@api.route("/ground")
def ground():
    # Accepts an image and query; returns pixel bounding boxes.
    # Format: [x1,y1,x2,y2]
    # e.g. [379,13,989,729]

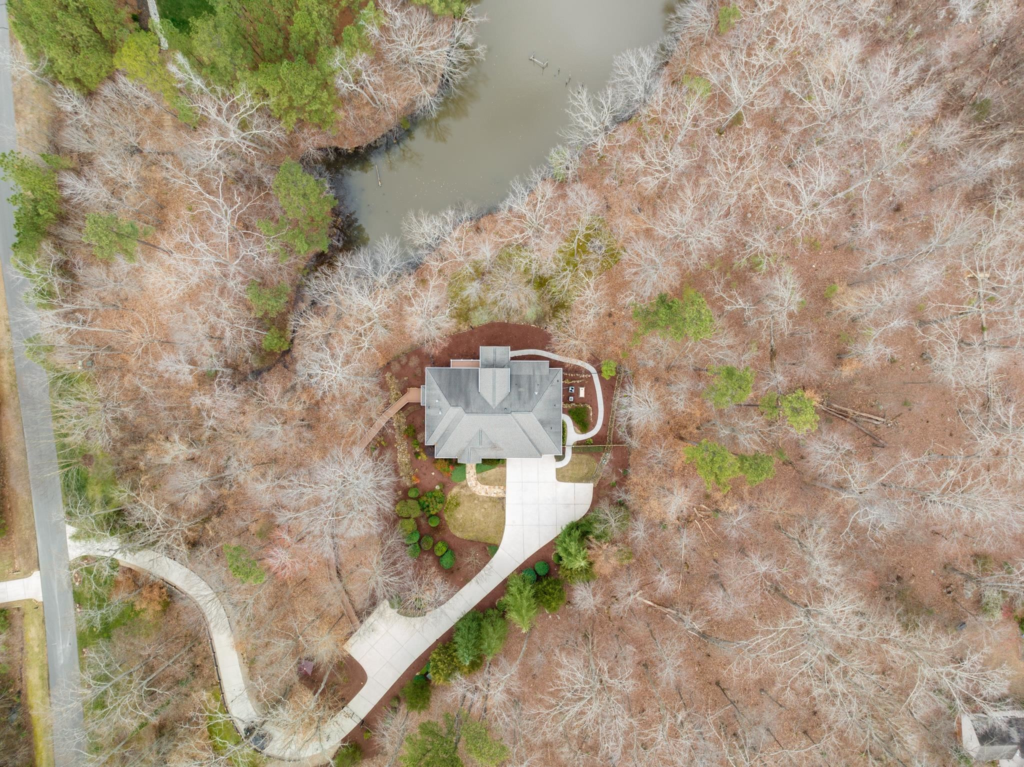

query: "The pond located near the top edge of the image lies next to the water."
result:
[302,0,682,288]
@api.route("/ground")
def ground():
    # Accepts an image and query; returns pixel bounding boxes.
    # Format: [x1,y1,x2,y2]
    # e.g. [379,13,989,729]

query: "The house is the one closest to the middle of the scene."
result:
[420,346,563,464]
